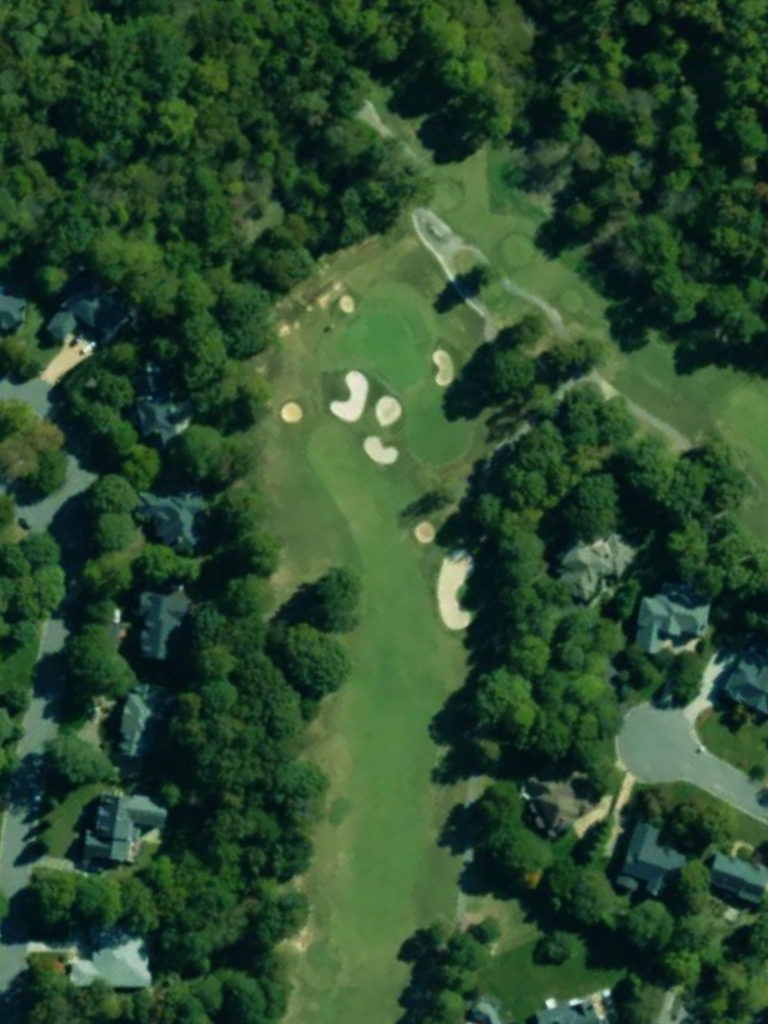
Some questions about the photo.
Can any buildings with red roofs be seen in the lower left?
No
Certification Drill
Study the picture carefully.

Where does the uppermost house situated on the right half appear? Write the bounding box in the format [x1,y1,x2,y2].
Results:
[557,532,637,602]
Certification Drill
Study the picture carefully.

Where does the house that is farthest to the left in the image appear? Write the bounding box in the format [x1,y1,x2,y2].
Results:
[0,288,30,334]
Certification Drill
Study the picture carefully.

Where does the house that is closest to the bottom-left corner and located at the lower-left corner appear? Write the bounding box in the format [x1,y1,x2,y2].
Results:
[67,934,151,990]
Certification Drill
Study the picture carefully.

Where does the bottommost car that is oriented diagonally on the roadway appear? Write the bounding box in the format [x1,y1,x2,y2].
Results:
[16,516,30,531]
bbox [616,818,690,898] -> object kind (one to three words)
house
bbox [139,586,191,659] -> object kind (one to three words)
house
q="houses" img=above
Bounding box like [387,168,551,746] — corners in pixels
[82,792,168,864]
[67,934,151,990]
[115,681,159,758]
[138,373,194,446]
[520,773,590,841]
[0,288,30,334]
[636,583,714,654]
[461,998,500,1024]
[616,818,690,898]
[557,532,637,602]
[139,586,191,659]
[133,489,203,550]
[534,989,613,1024]
[719,649,768,712]
[707,851,768,906]
[43,284,131,342]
